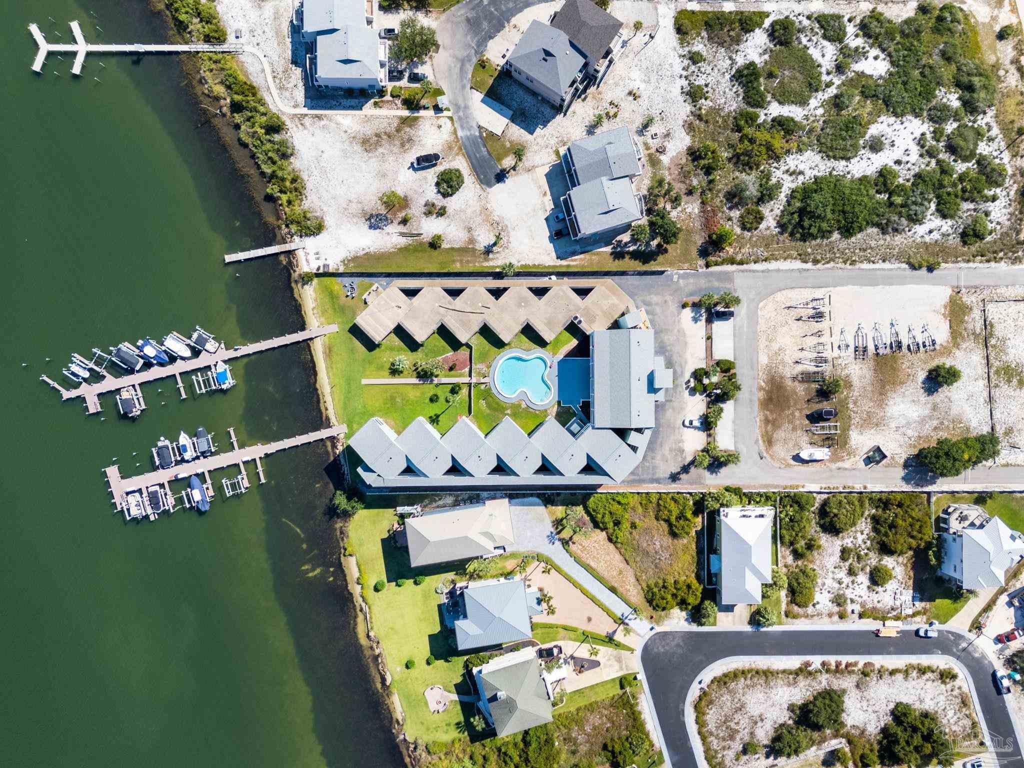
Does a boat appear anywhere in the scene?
Yes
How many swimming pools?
1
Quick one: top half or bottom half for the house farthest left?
top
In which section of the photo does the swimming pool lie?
center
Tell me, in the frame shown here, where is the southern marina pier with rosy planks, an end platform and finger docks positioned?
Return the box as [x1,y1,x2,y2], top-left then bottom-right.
[100,425,347,520]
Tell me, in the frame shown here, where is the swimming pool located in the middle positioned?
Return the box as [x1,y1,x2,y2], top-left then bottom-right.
[491,349,558,409]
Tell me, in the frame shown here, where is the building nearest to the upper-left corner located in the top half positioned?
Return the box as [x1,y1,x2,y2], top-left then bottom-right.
[288,0,391,91]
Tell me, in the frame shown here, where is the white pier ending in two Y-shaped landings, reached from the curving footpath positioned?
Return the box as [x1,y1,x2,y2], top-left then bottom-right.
[26,19,244,77]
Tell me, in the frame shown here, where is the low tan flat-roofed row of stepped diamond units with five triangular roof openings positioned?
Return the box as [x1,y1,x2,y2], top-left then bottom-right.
[354,278,636,344]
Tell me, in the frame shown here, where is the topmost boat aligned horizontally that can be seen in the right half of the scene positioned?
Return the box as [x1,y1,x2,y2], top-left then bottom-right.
[807,408,843,420]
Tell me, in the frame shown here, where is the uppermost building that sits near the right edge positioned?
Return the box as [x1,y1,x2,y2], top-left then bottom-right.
[931,500,1024,589]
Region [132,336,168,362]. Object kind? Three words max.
boat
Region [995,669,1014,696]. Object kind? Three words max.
vehicle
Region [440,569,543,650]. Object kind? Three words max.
house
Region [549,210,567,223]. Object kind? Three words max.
vehicle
